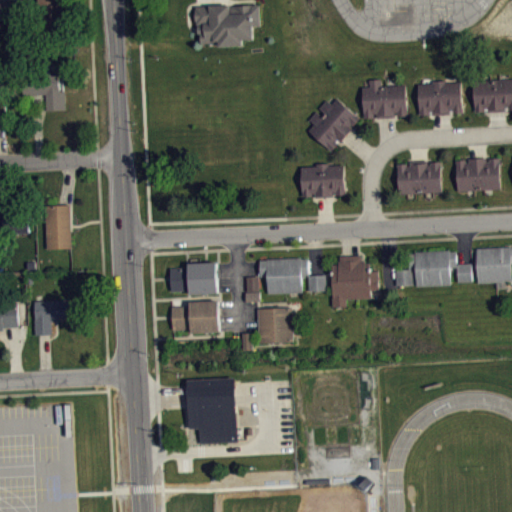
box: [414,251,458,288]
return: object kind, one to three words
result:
house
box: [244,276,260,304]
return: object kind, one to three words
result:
building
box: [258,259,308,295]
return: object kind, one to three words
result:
house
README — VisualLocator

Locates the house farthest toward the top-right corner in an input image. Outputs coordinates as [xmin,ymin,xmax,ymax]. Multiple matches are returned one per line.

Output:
[470,80,512,114]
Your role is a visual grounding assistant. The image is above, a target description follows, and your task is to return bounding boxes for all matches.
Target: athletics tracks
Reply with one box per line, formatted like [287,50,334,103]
[386,390,512,512]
